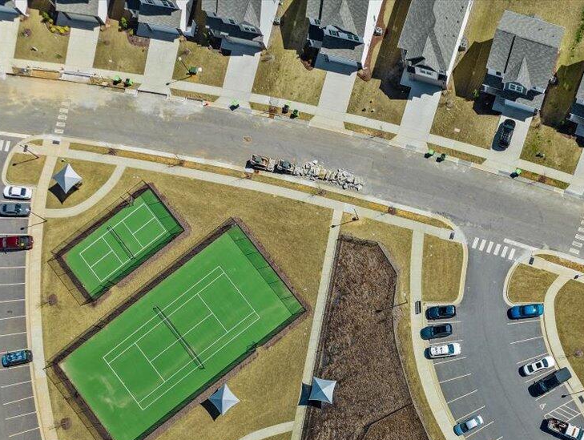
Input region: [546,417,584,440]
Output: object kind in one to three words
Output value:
truck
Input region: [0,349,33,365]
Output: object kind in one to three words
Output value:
car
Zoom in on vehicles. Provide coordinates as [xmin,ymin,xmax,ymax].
[524,356,556,376]
[0,235,34,251]
[546,417,584,440]
[431,342,462,358]
[453,415,485,436]
[420,324,453,340]
[0,201,31,216]
[509,304,544,319]
[426,305,456,320]
[0,349,33,365]
[499,117,516,148]
[531,366,576,396]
